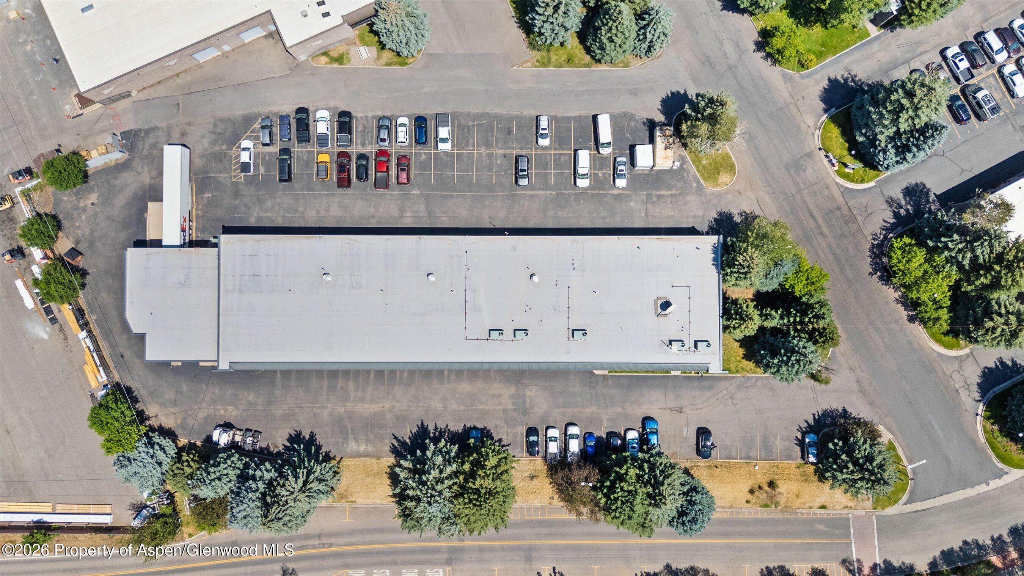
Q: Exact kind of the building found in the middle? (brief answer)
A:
warehouse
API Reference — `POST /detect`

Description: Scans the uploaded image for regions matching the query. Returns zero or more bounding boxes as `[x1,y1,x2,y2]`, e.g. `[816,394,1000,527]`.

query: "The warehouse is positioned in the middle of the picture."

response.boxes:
[124,234,727,374]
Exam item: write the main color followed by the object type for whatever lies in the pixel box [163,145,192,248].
white trailer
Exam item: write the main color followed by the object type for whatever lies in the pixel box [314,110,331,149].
white vehicle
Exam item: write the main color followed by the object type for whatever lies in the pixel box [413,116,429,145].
blue car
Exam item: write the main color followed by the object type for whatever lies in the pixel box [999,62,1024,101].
white truck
